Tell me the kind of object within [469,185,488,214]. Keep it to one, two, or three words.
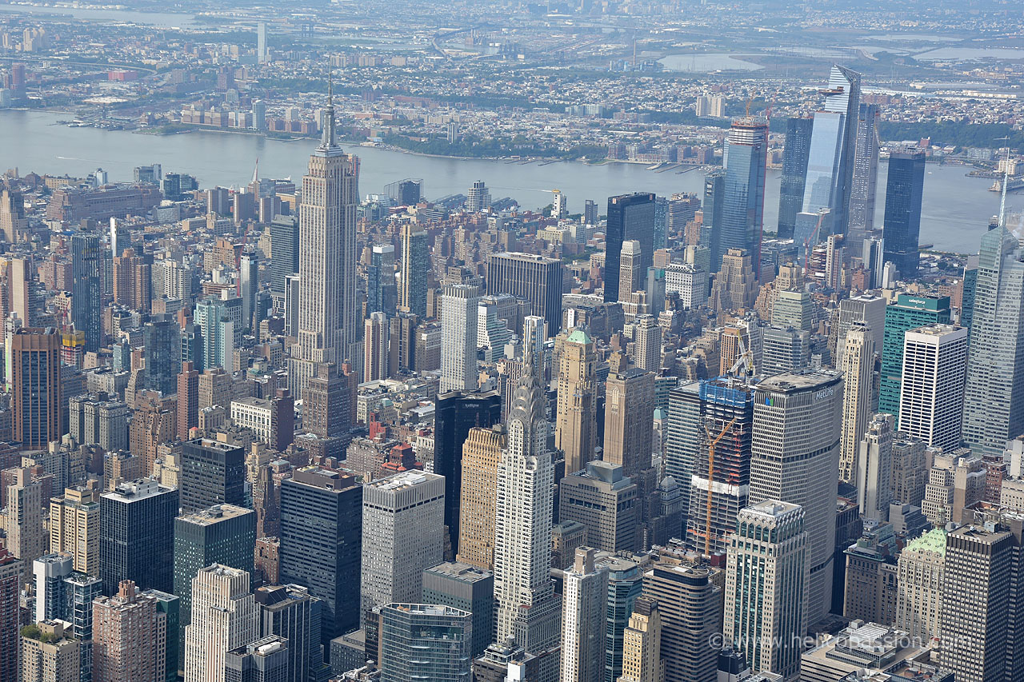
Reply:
building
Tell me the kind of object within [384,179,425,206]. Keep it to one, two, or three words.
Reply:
building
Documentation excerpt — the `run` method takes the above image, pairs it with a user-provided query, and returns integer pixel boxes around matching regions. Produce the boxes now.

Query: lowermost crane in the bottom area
[703,418,737,558]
